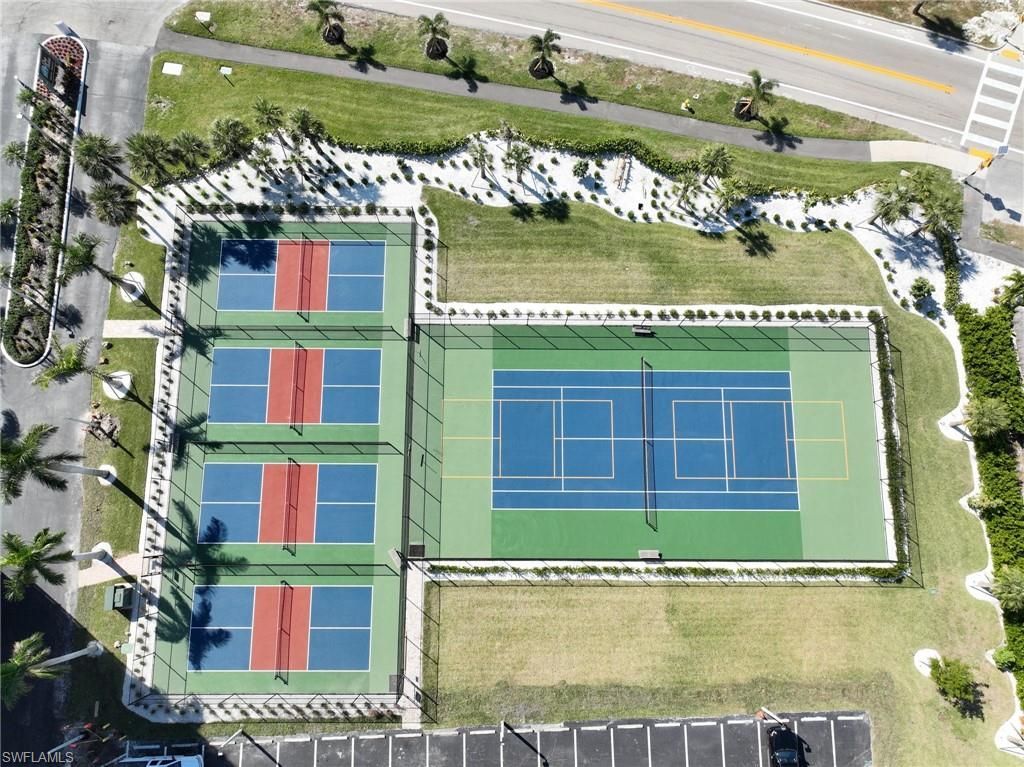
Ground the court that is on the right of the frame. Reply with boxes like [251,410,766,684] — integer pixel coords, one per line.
[406,325,889,560]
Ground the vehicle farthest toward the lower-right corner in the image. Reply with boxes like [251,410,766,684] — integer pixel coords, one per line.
[771,729,805,767]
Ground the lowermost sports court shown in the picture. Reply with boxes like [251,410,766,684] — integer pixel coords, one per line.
[187,585,373,671]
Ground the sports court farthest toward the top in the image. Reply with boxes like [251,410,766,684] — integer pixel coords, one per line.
[217,239,386,312]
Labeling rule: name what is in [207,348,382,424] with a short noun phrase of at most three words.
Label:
sports court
